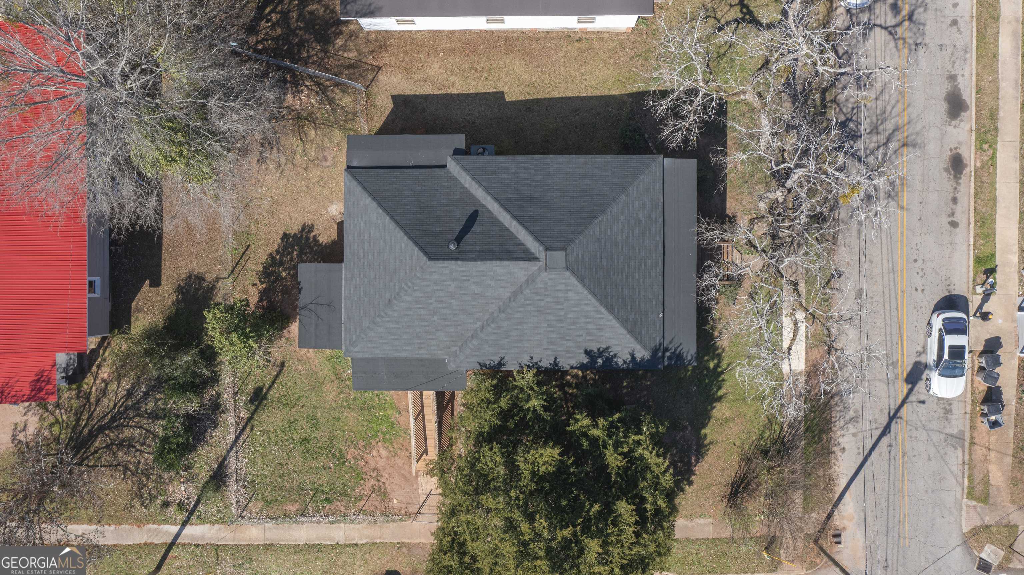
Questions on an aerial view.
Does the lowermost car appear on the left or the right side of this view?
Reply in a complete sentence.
The lowermost car appears in the right half of the scene.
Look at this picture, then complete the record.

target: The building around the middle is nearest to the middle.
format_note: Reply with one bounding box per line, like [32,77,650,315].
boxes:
[297,134,697,391]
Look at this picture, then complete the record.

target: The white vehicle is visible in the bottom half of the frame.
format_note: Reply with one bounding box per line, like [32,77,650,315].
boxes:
[927,310,976,397]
